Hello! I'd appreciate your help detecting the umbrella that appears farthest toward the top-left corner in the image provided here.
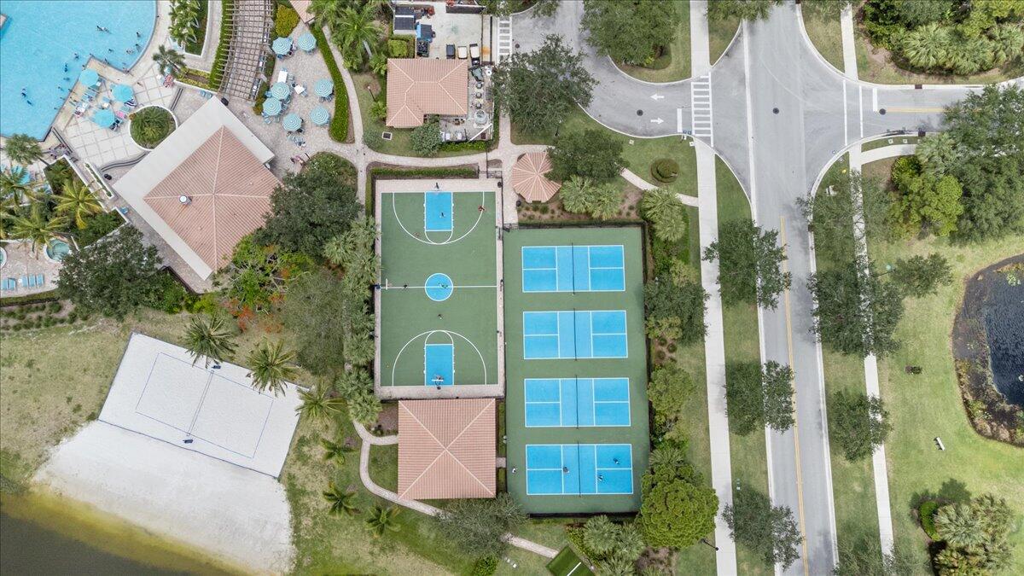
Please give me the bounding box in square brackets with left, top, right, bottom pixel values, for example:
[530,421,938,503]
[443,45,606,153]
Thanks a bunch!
[80,69,102,88]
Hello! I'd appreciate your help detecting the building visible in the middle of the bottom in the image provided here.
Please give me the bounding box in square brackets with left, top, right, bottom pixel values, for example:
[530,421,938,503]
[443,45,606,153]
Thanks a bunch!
[397,398,497,500]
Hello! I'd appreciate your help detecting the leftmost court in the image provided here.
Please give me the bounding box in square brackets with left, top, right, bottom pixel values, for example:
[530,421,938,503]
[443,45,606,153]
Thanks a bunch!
[97,332,307,477]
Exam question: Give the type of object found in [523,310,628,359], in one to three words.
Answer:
sports court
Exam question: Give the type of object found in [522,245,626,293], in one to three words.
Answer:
sports court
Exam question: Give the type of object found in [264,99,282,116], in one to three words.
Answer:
umbrella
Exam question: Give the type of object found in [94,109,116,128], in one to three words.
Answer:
umbrella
